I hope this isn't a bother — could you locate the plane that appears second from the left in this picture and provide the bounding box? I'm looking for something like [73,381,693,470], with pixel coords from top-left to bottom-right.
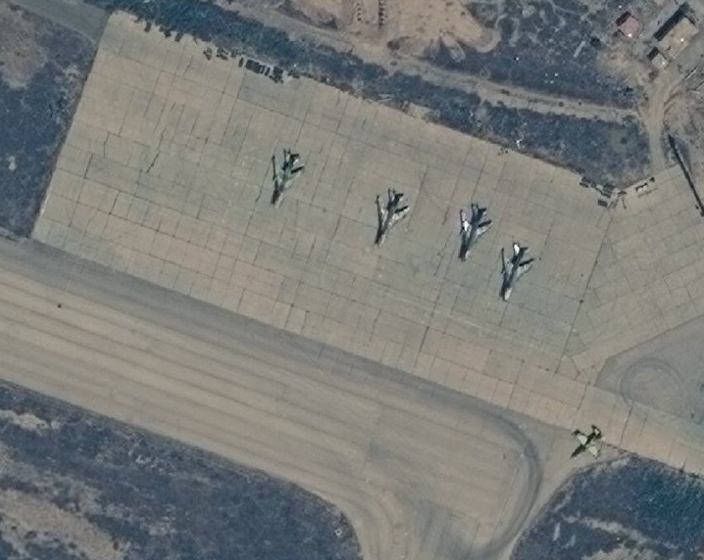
[375,188,407,248]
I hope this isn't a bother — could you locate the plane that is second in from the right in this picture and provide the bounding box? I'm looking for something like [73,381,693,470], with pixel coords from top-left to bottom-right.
[500,242,532,302]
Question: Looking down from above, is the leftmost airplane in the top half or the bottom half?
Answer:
top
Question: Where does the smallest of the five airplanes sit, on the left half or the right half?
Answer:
right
